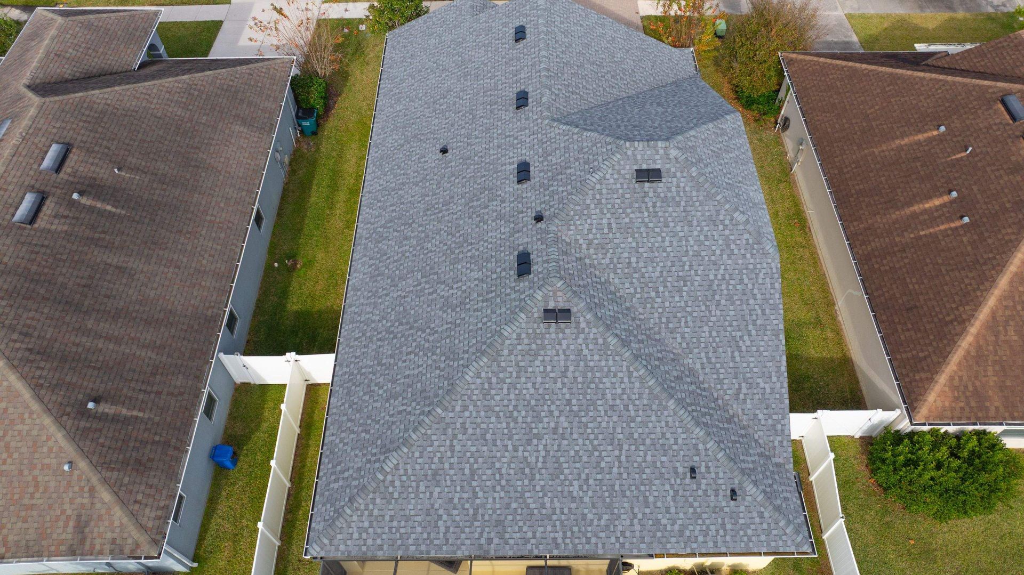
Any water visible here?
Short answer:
No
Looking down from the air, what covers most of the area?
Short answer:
buildings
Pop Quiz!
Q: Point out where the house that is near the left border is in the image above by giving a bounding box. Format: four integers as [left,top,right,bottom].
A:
[0,6,300,573]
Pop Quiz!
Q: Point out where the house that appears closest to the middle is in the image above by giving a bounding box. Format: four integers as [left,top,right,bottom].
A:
[304,0,814,575]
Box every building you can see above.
[0,6,300,573]
[773,31,1024,450]
[304,0,814,575]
